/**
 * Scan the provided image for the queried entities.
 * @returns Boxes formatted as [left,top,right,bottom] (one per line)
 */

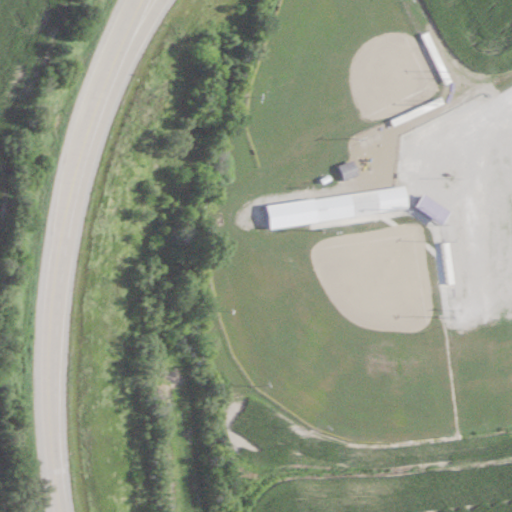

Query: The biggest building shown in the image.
[267,186,411,231]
